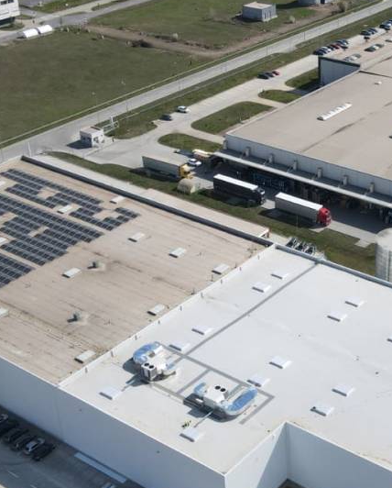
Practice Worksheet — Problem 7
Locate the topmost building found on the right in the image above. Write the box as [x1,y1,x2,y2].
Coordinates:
[243,2,275,20]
